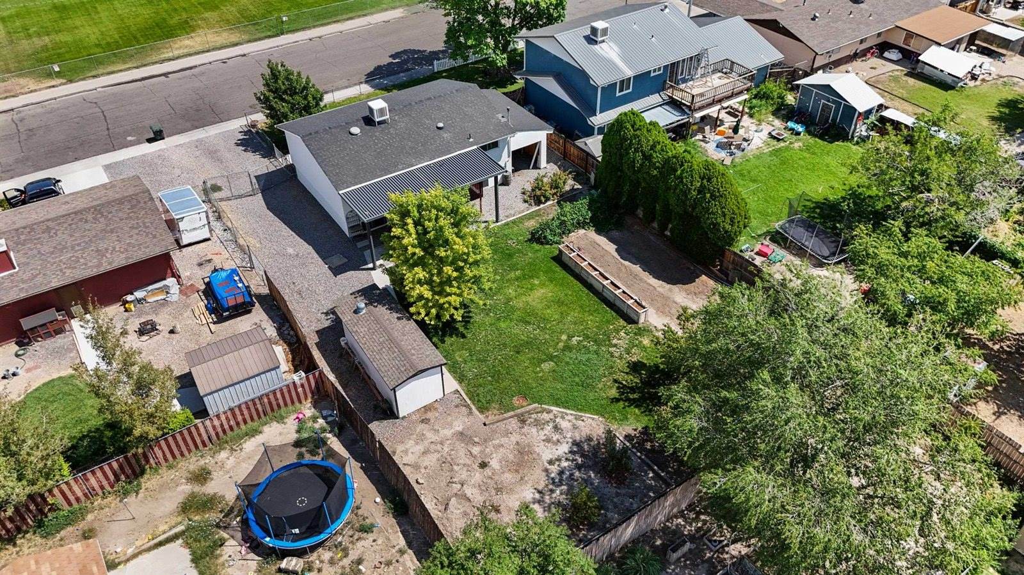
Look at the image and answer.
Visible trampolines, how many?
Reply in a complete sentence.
The picture shows 2 trampolines.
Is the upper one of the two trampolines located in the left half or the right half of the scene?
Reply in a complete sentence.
The upper one of the two trampolines appears in the right half of the scene.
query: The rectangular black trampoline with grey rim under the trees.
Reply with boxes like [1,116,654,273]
[773,194,854,272]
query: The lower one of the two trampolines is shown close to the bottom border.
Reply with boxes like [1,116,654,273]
[224,426,354,565]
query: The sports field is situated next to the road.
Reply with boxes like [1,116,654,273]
[0,0,423,97]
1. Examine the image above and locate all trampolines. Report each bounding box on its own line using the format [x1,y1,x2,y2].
[773,194,854,272]
[224,426,354,565]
